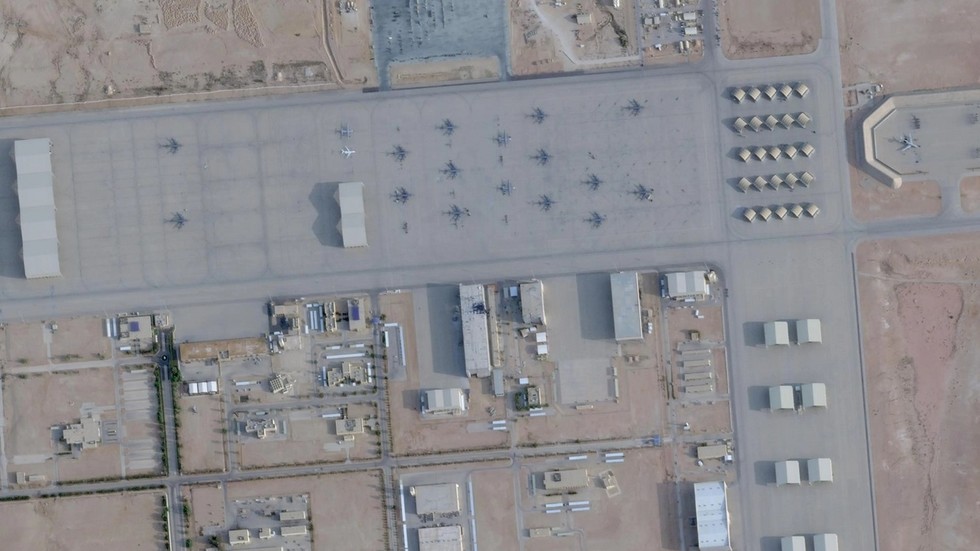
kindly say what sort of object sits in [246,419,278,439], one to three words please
building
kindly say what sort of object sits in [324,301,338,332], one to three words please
building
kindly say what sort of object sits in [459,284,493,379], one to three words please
hangar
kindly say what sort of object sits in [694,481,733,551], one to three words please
hangar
